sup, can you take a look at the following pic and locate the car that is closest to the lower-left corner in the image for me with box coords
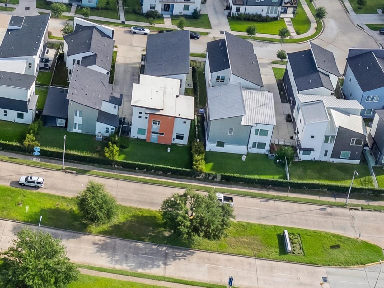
[19,175,44,189]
